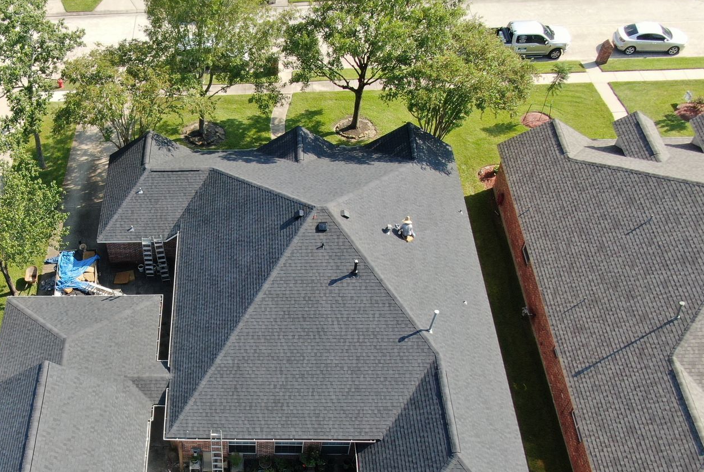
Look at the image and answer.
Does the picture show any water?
No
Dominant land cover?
buildings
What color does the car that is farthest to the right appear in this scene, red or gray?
gray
